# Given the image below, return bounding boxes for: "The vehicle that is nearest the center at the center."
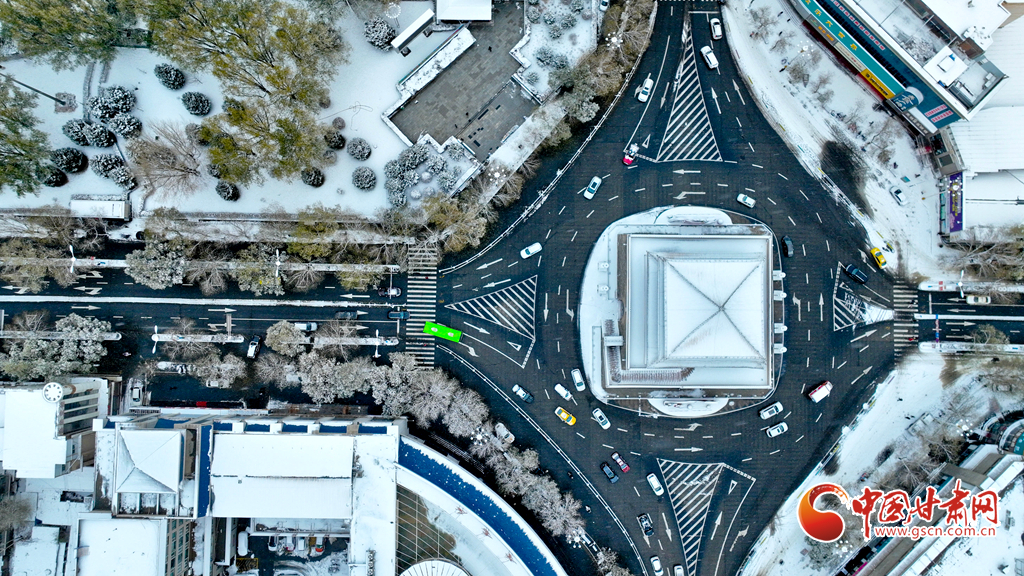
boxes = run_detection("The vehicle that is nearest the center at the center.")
[520,241,542,259]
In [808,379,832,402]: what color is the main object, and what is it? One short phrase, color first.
white vehicle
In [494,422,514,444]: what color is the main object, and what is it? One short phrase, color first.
white vehicle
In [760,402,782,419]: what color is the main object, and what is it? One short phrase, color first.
white car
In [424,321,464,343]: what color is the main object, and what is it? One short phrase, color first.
green bus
